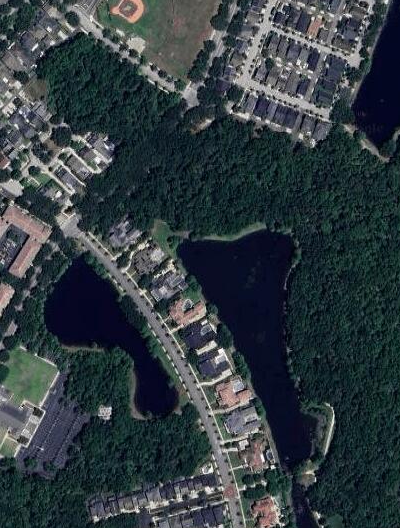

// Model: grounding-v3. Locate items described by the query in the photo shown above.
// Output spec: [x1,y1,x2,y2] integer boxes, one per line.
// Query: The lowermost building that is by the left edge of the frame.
[0,386,36,441]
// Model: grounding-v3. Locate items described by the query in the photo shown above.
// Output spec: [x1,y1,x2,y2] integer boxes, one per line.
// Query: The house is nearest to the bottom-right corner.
[249,495,278,527]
